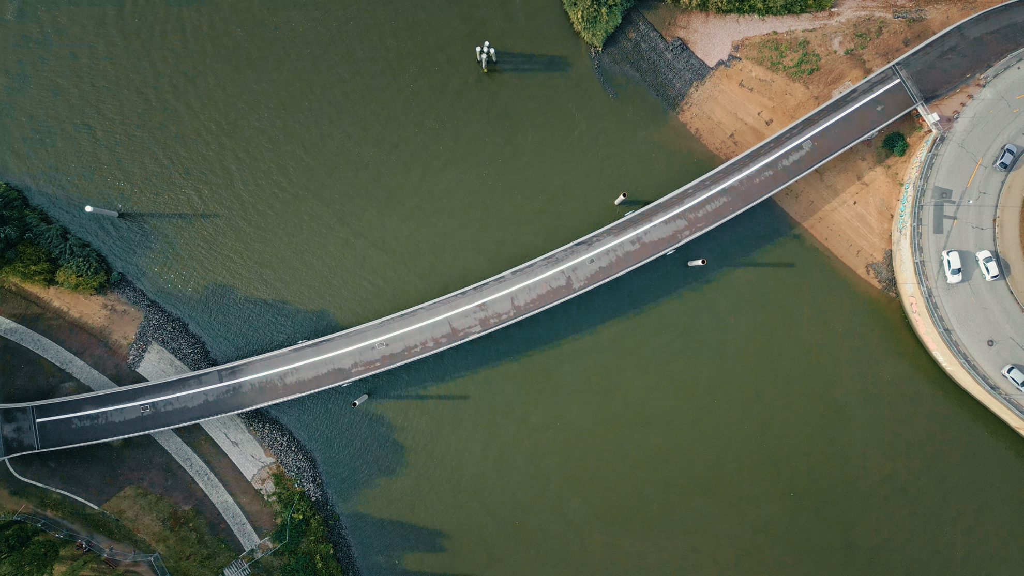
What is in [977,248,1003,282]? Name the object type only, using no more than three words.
car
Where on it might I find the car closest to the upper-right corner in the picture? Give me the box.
[994,139,1021,174]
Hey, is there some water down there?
Yes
